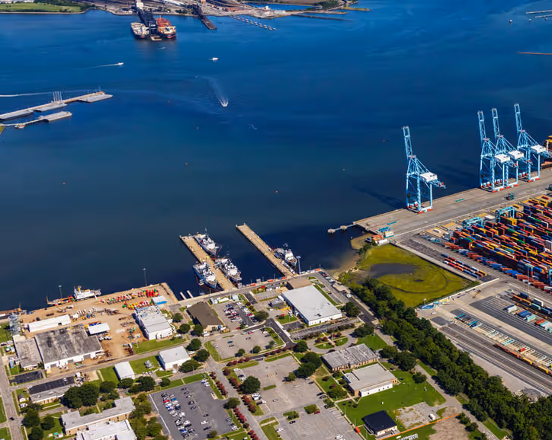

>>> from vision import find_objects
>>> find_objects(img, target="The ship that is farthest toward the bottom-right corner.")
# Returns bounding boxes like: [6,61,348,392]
[271,246,297,269]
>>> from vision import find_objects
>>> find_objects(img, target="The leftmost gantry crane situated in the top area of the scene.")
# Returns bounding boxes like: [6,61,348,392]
[403,127,446,213]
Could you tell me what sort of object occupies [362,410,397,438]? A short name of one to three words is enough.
building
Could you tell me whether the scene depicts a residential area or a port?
port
